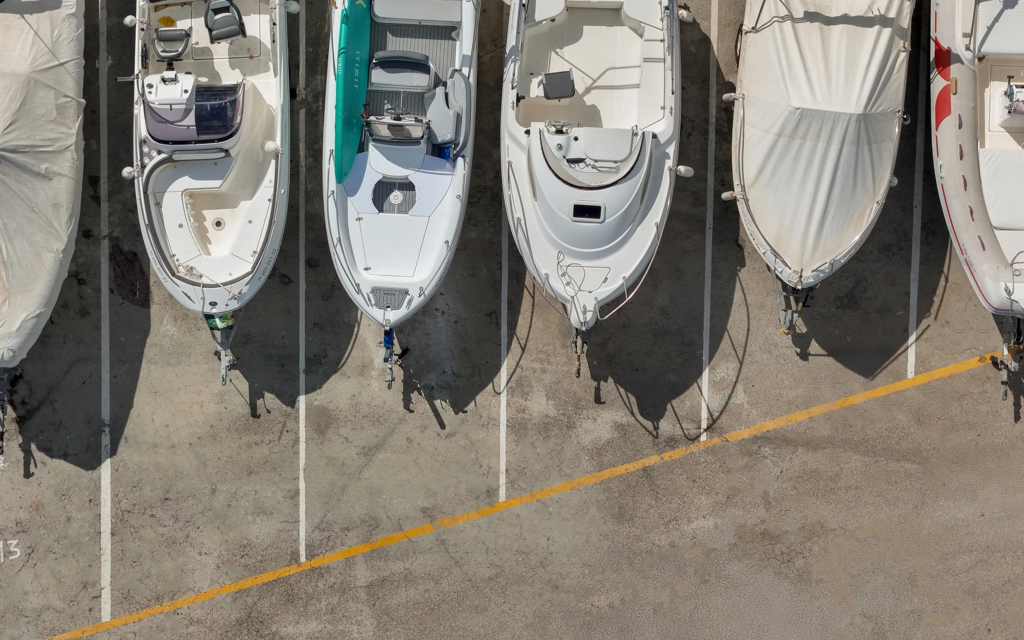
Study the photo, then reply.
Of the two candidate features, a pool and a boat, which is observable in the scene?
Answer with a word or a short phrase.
boat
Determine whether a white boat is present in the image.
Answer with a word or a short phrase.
Yes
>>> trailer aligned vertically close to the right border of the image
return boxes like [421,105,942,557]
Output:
[988,312,1024,401]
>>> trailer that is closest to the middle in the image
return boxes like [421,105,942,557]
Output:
[562,303,592,379]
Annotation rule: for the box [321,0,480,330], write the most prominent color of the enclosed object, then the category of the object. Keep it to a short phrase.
white boat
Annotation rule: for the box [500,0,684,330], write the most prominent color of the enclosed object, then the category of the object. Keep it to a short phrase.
white boat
